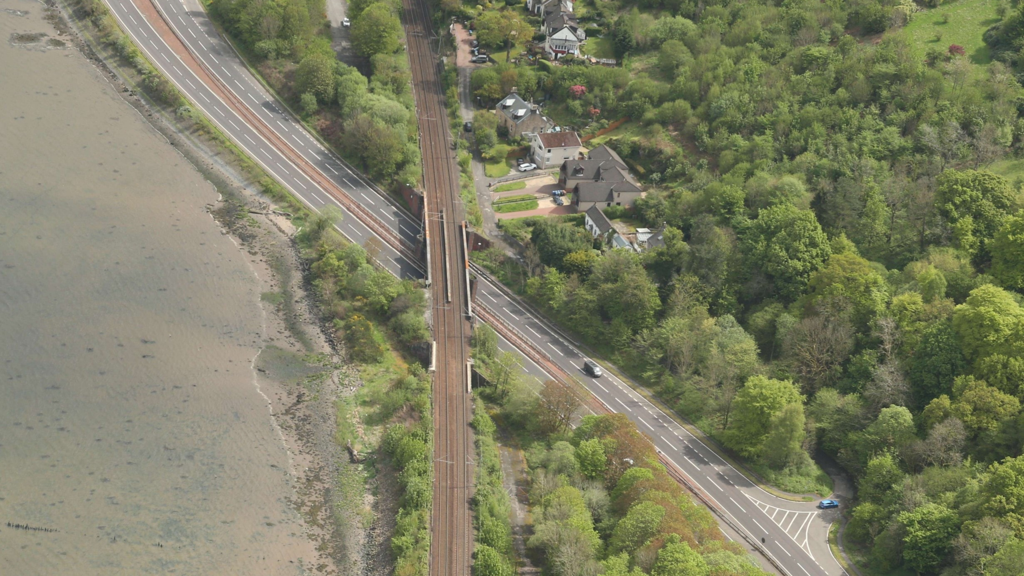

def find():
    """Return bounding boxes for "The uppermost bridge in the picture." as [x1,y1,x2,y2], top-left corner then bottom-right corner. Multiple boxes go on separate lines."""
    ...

[398,183,489,326]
